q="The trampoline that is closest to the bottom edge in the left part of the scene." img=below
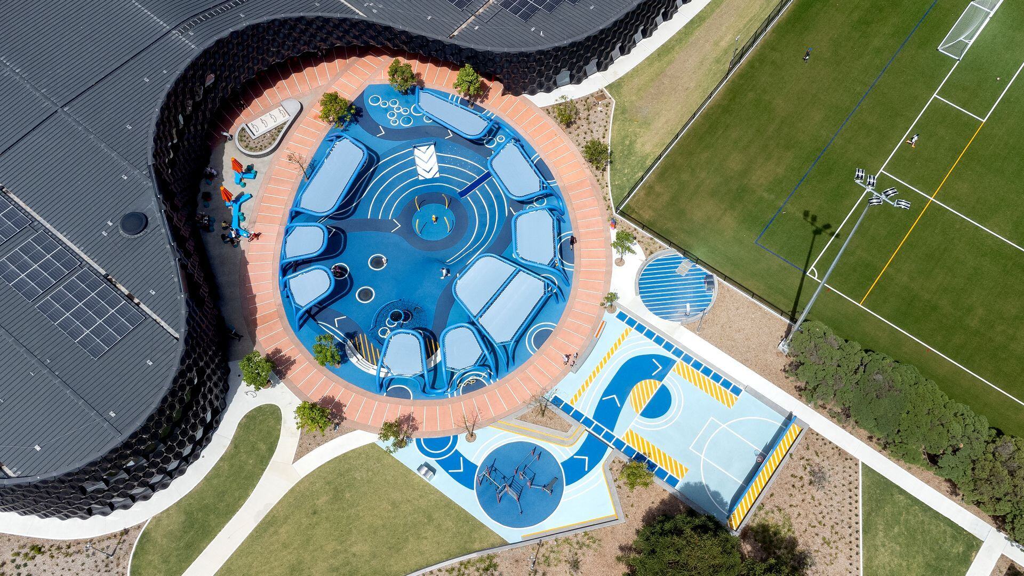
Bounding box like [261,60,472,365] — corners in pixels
[355,286,375,304]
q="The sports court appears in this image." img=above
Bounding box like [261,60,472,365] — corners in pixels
[375,310,788,543]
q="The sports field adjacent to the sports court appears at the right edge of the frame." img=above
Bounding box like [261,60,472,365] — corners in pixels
[618,0,1024,437]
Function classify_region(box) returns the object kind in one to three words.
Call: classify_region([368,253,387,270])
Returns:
trampoline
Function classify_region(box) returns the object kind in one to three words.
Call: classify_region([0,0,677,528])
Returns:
building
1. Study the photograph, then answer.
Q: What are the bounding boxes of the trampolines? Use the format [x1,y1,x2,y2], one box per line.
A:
[330,262,350,279]
[368,253,387,270]
[355,286,375,304]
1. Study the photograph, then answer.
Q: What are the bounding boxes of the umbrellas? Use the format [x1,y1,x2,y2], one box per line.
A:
[233,160,245,180]
[220,186,233,202]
